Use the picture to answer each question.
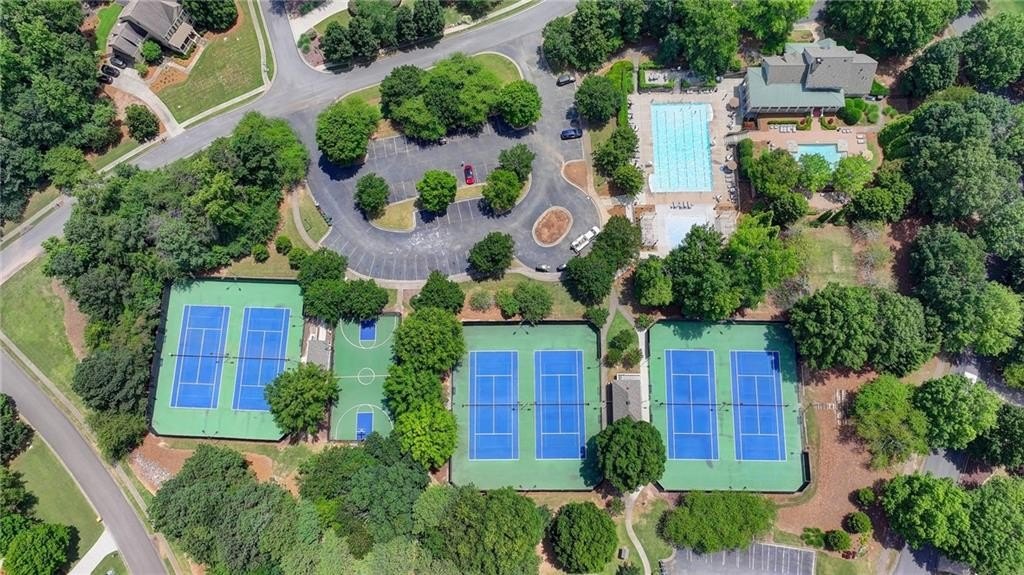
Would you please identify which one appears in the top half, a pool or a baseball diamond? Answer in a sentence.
It is a pool that can be seen in the top half.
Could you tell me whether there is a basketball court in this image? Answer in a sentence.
Yes, I can see a basketball court in this picture.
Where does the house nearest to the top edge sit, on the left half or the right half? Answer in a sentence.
It is on the left.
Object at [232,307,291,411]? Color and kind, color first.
blue tennis court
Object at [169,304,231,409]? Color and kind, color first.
blue tennis court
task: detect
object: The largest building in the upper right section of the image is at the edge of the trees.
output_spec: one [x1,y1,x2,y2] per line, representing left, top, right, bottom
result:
[743,39,878,119]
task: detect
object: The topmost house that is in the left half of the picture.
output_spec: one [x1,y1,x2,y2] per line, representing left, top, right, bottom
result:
[116,0,200,62]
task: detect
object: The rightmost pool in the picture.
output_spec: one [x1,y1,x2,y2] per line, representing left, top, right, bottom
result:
[786,143,849,181]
